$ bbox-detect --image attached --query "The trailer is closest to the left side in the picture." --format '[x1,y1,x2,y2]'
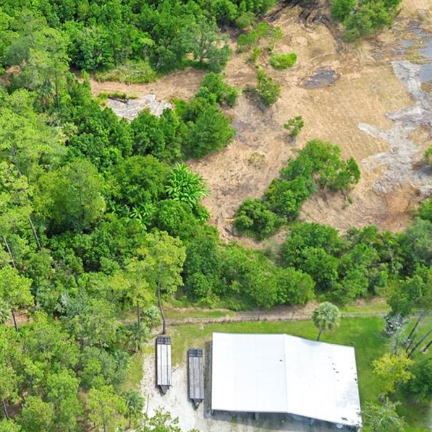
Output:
[157,336,172,397]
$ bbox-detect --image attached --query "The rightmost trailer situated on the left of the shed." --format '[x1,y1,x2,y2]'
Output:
[189,348,204,409]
